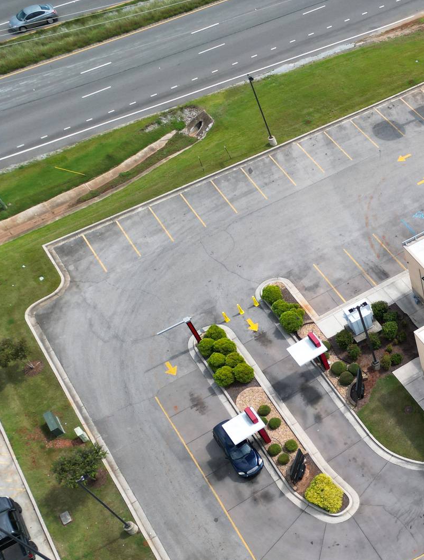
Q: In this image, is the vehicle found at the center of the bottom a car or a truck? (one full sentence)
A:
It turns out the vehicle found at the center of the bottom is a car.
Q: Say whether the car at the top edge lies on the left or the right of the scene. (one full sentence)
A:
You can find the car at the top edge on the left side of the picture.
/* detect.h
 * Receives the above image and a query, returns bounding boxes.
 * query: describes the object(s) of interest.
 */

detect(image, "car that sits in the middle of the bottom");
[210,412,259,475]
